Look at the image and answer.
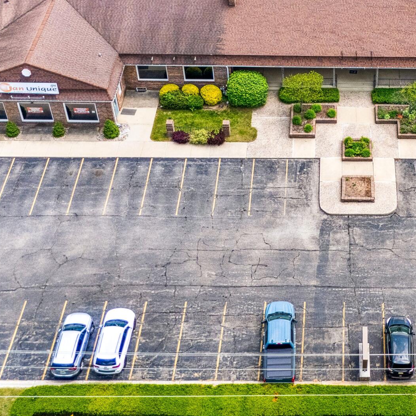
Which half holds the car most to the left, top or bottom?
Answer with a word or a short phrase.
bottom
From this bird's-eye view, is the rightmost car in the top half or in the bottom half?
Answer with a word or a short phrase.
bottom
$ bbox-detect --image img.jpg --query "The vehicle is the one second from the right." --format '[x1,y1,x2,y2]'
[262,300,297,382]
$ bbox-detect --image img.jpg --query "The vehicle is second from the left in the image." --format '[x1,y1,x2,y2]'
[94,310,135,376]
